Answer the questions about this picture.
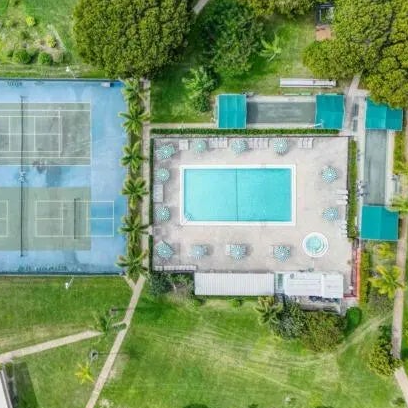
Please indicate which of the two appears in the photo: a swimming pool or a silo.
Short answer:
swimming pool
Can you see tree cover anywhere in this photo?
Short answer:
Yes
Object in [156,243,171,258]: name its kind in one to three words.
umbrella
